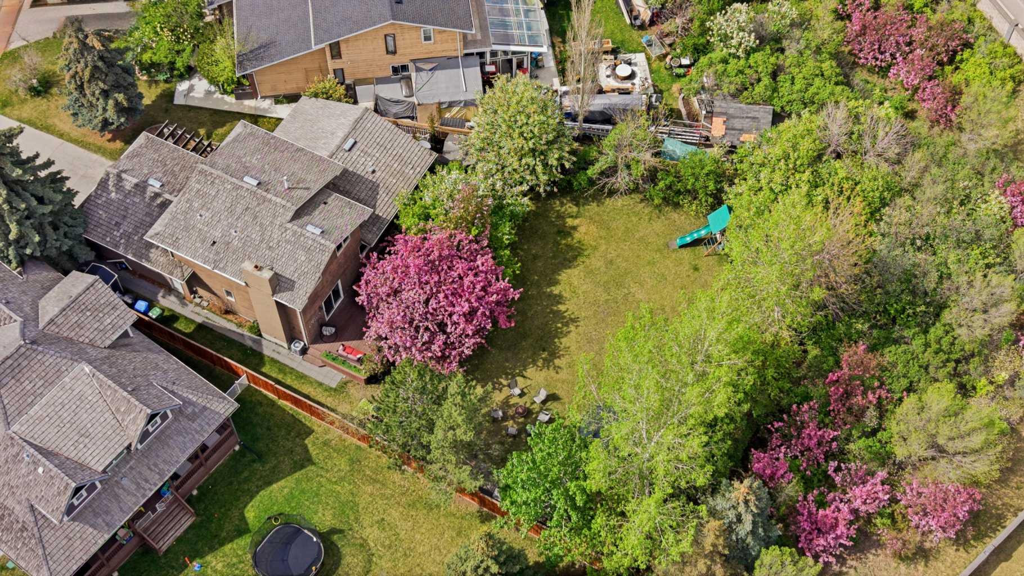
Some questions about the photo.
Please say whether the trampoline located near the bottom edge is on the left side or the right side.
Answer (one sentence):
You can find the trampoline located near the bottom edge on the left side of the picture.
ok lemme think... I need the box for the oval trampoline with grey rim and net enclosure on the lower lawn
[243,509,327,576]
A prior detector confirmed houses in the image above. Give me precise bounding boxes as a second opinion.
[69,96,439,347]
[0,230,245,576]
[232,0,547,101]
